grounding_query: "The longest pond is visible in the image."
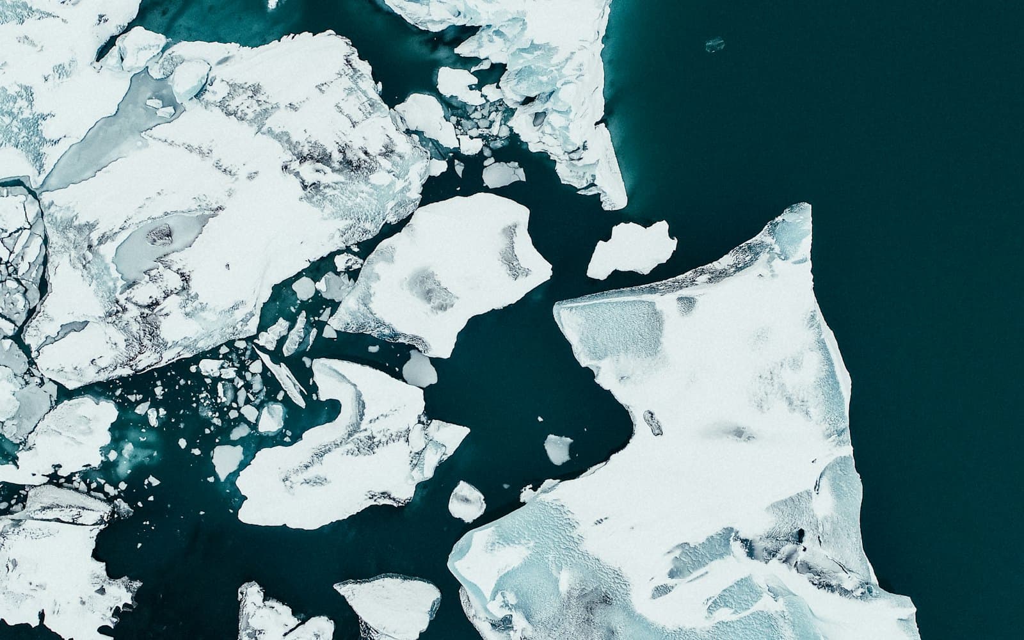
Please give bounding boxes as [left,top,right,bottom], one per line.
[110,212,217,291]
